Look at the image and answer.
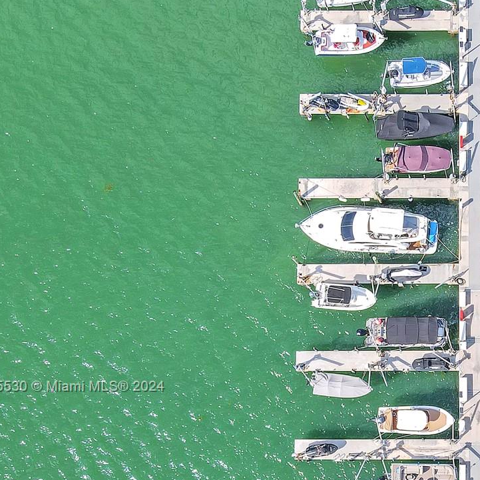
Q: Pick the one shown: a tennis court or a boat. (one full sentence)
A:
The image shows a boat.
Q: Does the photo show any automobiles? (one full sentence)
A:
No, the frame has no automobile in it.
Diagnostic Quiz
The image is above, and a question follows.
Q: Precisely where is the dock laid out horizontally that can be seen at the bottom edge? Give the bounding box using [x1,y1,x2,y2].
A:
[295,438,459,461]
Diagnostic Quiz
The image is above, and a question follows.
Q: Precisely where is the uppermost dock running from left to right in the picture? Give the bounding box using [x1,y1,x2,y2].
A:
[301,10,459,37]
